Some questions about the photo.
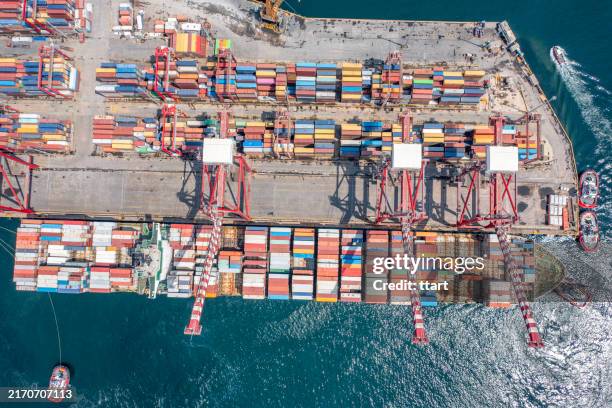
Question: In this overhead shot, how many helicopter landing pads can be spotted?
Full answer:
The count of helicopter landing pads is 0.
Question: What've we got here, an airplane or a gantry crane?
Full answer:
It is a gantry crane that can be seen here.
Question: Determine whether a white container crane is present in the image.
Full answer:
Yes, I can see a white container crane in this picture.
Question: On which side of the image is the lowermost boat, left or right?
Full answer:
The lowermost boat is on the left side of the image.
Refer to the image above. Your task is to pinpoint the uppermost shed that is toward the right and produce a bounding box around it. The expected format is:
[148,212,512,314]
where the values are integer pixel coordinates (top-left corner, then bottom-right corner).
[494,19,516,49]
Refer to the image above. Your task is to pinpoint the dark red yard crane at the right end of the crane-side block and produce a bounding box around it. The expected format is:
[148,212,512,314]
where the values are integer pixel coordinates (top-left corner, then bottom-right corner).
[507,113,543,164]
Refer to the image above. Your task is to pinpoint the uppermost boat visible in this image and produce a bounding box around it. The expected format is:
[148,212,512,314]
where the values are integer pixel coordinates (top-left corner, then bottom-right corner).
[552,47,565,66]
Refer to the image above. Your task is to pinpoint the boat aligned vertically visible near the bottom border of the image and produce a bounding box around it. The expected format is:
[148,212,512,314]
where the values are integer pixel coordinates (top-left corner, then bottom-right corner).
[47,363,72,405]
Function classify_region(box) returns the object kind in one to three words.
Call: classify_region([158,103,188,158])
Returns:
crane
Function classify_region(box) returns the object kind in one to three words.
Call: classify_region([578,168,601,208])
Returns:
boat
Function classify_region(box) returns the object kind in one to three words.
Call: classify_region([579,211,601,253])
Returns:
boat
